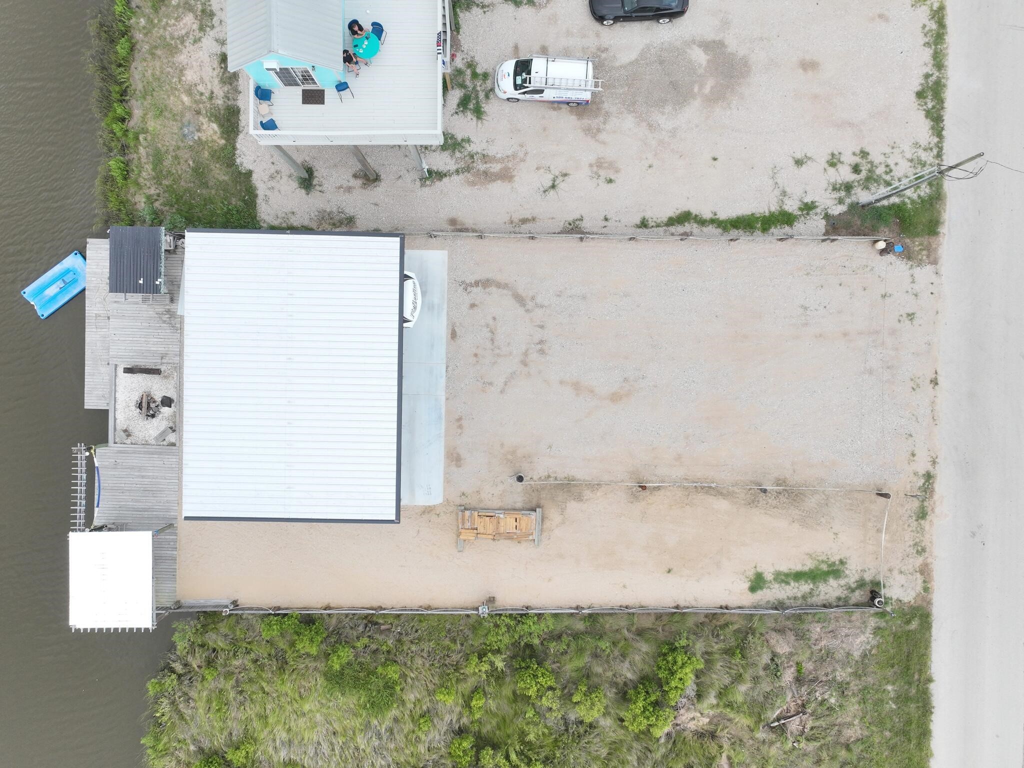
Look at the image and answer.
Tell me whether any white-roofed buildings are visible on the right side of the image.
No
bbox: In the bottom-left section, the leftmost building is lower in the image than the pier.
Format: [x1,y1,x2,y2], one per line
[69,529,158,632]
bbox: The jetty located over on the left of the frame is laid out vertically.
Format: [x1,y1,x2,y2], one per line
[84,239,110,409]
